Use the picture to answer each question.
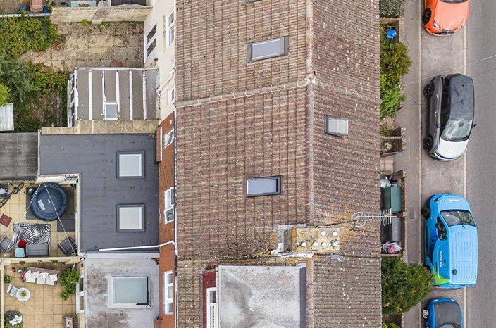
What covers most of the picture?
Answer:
buildings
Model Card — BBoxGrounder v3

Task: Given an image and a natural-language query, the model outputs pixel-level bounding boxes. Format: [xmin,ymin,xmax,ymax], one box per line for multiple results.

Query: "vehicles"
[423,190,488,292]
[422,70,482,164]
[421,0,473,36]
[418,295,467,328]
